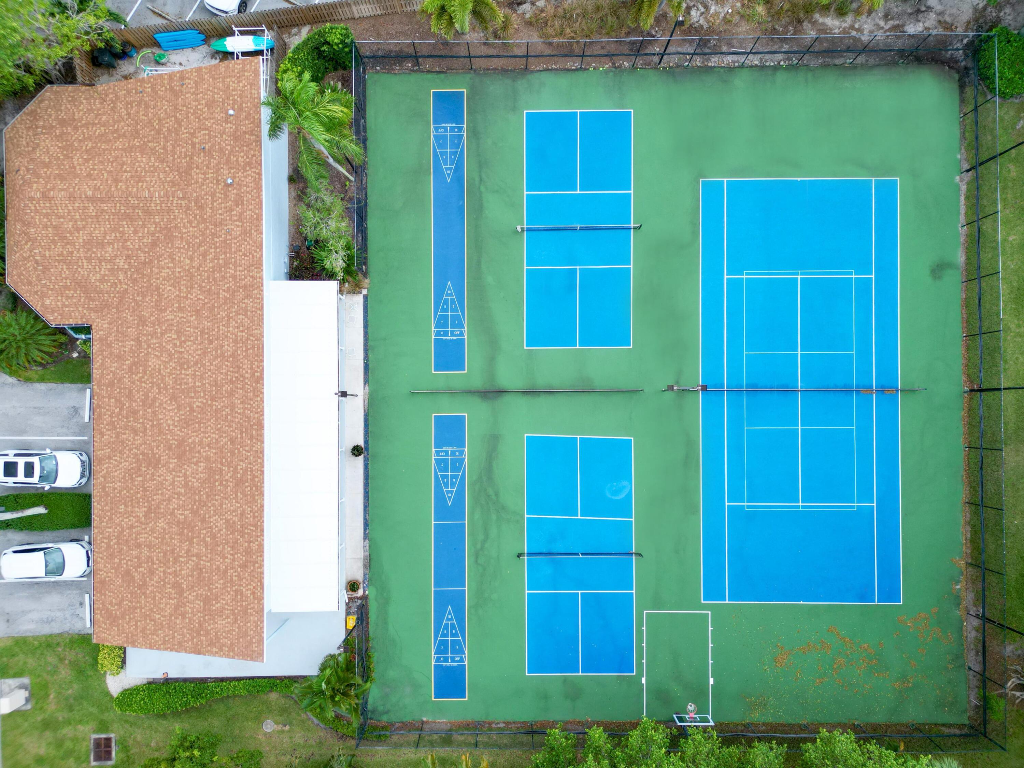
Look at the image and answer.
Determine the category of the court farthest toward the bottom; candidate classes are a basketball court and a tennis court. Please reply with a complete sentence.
The court farthest toward the bottom in the image is a basketball court.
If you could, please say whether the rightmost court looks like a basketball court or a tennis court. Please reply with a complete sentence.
From above, the rightmost court can be identified as a tennis court.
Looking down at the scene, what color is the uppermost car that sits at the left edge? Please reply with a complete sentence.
From above, the uppermost car that sits at the left edge appears white.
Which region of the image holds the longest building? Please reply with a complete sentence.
You can find the longest building in the left area of the picture.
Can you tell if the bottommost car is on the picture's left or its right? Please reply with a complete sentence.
The bottommost car sits on the left side.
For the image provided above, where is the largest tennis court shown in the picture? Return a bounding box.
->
[700,178,903,604]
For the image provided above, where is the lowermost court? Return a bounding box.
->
[642,611,714,720]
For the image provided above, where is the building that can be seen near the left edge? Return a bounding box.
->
[1,56,345,663]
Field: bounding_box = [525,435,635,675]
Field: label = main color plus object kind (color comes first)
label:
blue sports court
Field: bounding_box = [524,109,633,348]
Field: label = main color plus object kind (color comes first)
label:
blue sports court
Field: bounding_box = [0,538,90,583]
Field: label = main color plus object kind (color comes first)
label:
white car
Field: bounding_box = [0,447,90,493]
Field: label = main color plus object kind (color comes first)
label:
white car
